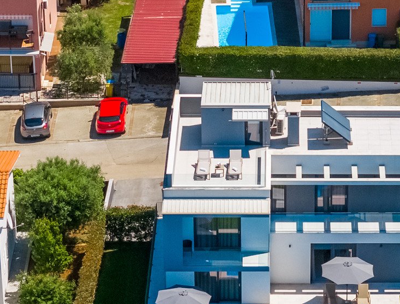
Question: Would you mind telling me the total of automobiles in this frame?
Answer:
2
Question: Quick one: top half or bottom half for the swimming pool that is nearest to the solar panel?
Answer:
top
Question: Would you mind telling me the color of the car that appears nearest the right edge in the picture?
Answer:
red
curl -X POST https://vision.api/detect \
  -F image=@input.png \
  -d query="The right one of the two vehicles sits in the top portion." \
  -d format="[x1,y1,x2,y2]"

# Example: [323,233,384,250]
[94,96,129,132]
